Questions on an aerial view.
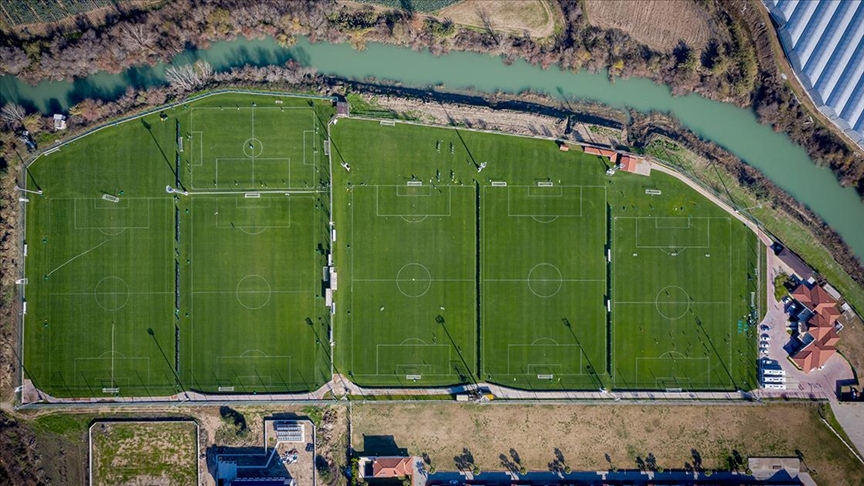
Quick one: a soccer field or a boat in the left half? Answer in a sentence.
The one visible in the left half is a soccer field.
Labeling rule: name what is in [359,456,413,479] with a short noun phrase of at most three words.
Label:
house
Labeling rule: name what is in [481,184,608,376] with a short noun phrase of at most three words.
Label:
soccer field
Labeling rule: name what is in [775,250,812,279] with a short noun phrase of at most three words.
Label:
shed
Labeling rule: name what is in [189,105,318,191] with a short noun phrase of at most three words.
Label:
soccer field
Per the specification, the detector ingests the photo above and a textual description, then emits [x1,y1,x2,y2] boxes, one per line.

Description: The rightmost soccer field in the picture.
[613,215,733,392]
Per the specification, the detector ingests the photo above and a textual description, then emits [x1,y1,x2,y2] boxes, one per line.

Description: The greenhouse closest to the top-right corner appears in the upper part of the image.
[764,0,864,150]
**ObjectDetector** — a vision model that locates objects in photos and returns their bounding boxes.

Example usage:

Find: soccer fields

[351,184,478,376]
[48,197,175,391]
[481,184,608,376]
[190,196,317,391]
[613,215,733,392]
[189,105,318,191]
